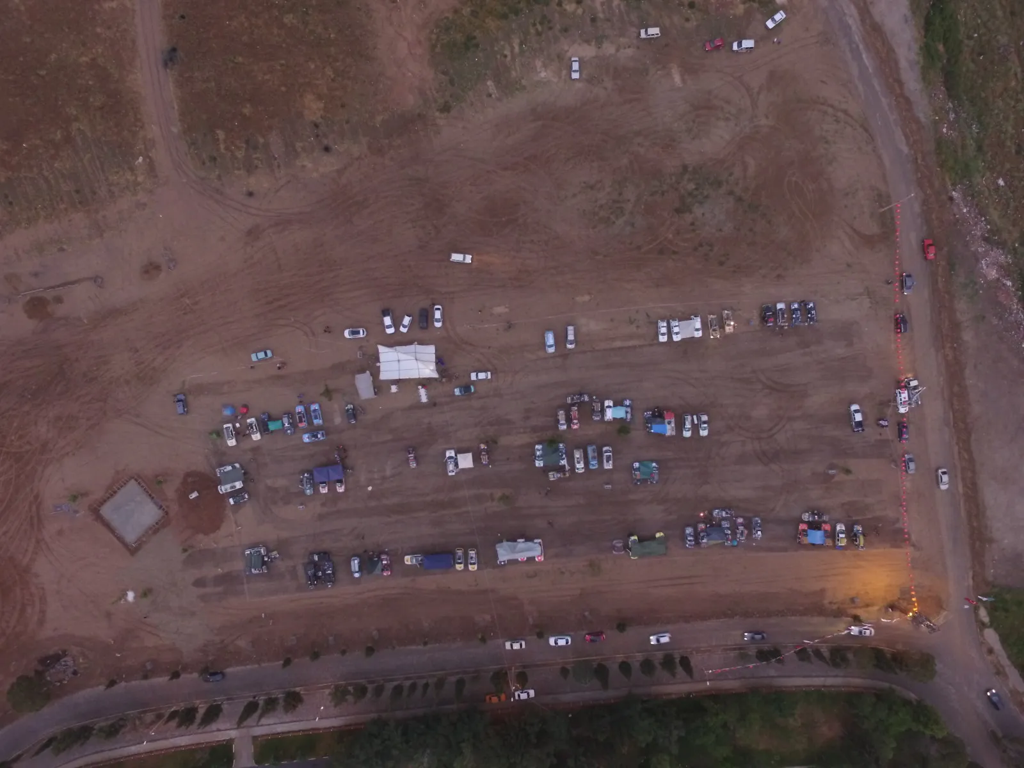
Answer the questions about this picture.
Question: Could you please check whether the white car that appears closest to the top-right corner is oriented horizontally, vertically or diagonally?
diagonally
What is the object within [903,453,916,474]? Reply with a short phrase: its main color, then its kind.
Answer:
gray vehicle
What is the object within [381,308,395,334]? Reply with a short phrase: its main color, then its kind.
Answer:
white vehicle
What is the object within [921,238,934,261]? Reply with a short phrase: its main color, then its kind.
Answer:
red vehicle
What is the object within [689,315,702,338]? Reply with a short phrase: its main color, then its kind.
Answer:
white vehicle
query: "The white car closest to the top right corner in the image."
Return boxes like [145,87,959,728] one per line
[764,9,786,31]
